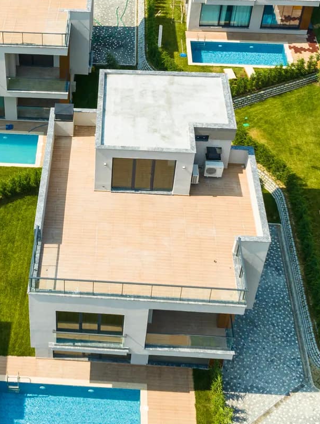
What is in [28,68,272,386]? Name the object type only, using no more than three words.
house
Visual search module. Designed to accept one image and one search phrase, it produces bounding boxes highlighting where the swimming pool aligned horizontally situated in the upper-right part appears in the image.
[185,27,318,66]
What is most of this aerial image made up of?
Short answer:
buildings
